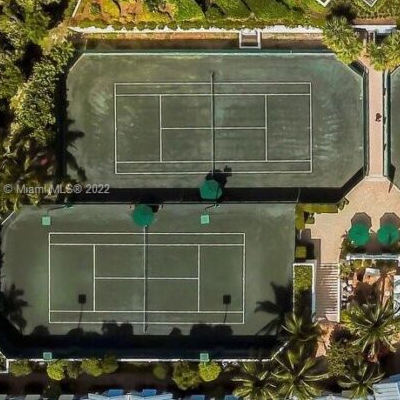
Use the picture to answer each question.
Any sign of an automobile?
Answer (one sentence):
No, there is no automobile in the image.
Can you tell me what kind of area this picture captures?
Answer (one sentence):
This looks like a sports ground.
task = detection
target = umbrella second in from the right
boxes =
[348,223,370,245]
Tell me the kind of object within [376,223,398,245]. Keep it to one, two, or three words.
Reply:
umbrella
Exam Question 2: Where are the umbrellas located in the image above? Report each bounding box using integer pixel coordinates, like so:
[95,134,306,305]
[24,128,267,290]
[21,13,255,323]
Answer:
[348,223,370,245]
[132,206,155,228]
[200,180,222,200]
[376,223,398,245]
